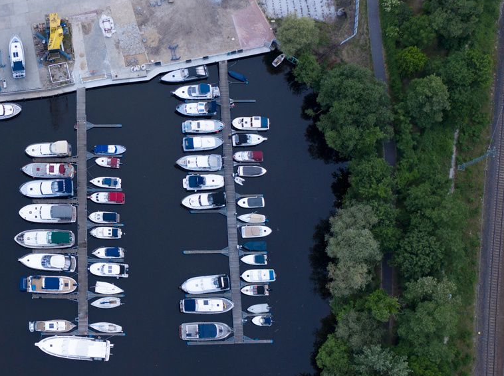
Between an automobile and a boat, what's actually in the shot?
boat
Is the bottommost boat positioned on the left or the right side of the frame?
left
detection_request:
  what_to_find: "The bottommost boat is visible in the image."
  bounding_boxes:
[34,333,112,361]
